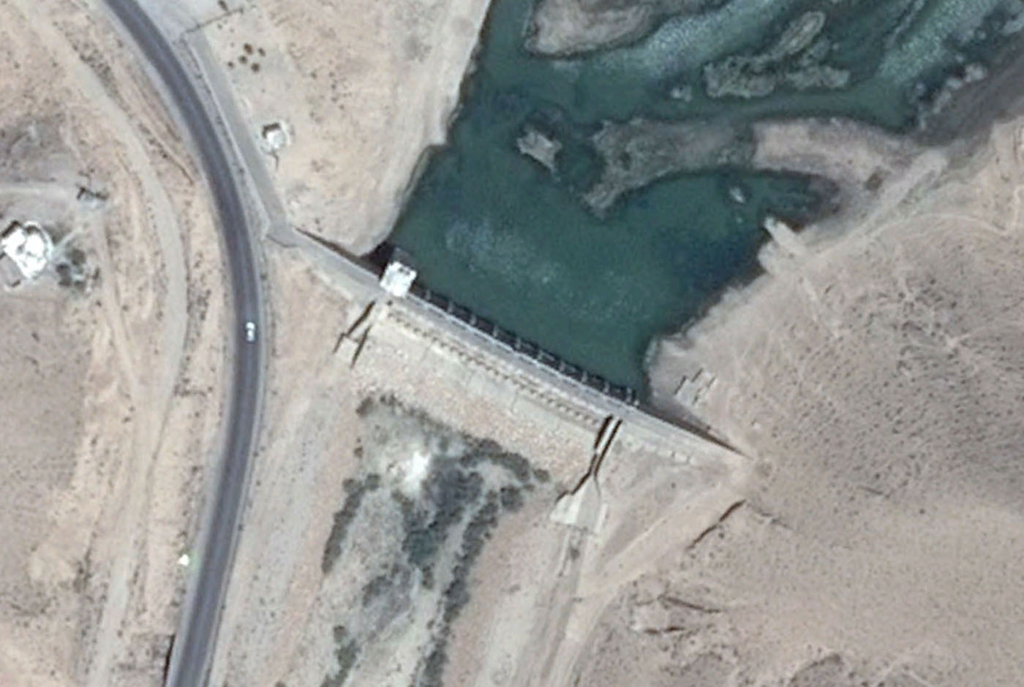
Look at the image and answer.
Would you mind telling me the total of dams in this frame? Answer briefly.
one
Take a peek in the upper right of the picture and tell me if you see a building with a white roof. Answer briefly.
No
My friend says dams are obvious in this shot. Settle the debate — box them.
[281,227,755,474]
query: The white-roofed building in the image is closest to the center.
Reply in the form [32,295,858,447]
[381,248,418,297]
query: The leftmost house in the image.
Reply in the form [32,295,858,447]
[0,219,52,278]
